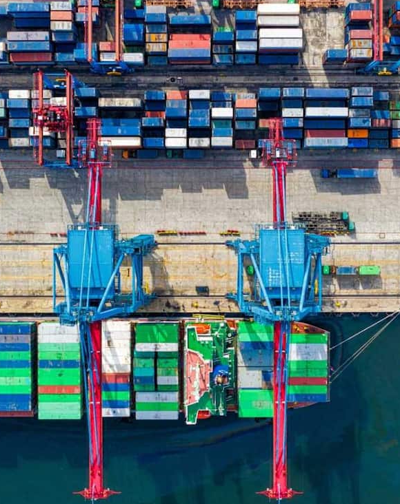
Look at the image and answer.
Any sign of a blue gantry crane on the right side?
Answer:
Yes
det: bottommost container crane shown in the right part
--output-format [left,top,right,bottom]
[219,118,326,501]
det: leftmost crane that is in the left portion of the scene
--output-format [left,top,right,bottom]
[35,71,88,171]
